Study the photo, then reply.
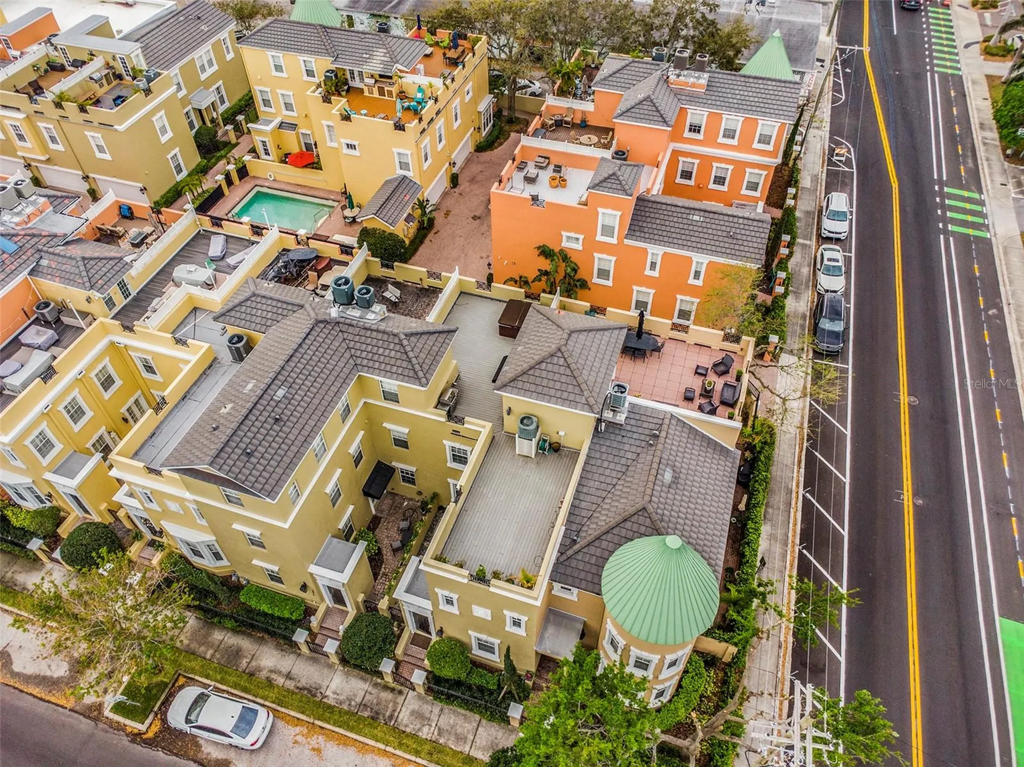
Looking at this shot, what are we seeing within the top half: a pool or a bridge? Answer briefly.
pool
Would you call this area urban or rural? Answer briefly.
urban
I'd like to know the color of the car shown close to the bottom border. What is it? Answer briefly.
white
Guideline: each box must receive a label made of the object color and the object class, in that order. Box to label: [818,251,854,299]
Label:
white car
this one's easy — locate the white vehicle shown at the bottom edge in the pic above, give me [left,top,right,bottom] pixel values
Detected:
[162,685,273,756]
